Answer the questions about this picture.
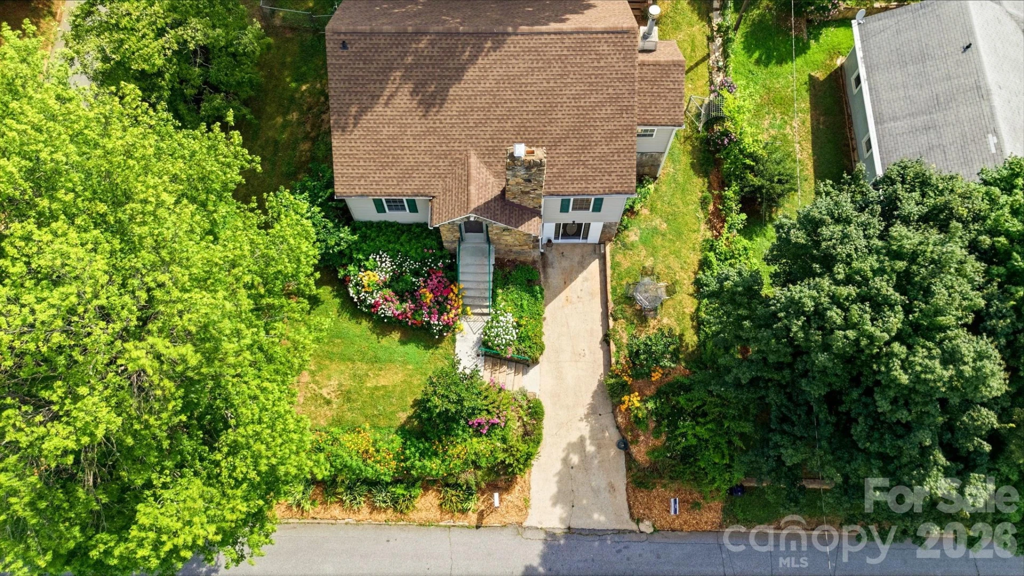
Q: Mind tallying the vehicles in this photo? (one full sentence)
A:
There are no vehicles in the image.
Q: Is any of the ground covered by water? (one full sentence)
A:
No, no water is visible.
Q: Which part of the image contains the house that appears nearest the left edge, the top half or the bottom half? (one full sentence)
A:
You can find the house that appears nearest the left edge in the top half.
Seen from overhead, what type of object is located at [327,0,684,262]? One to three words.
house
